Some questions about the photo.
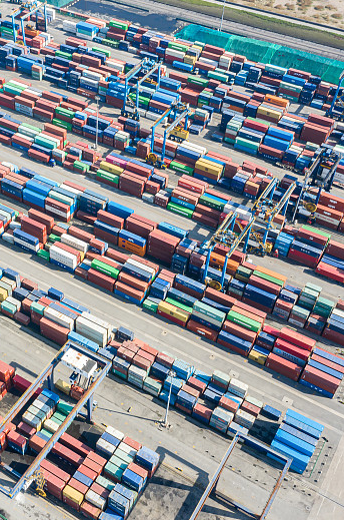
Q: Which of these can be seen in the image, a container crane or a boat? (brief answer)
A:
container crane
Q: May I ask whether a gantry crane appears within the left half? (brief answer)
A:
Yes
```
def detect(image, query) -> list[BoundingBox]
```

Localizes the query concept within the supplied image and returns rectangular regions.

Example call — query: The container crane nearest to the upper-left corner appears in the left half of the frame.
[10,0,47,52]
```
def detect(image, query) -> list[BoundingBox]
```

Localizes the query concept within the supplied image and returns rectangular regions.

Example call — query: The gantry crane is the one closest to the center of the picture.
[193,212,253,297]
